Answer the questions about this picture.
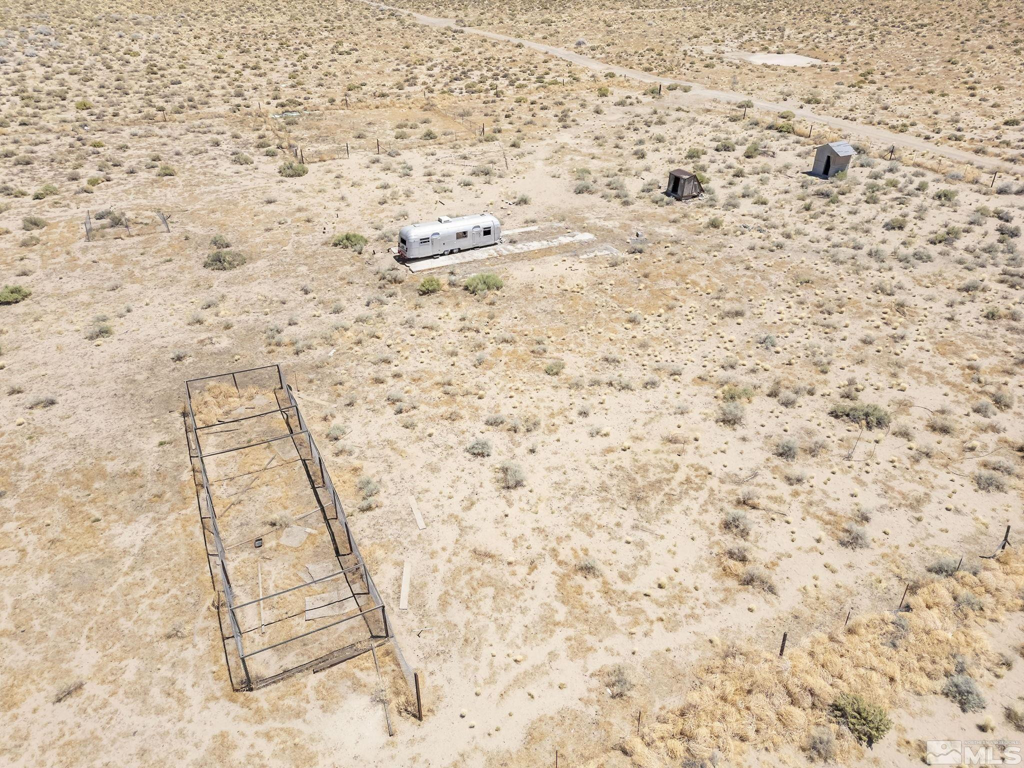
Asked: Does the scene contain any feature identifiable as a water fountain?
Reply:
No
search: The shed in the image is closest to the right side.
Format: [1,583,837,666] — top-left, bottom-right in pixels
[812,144,856,178]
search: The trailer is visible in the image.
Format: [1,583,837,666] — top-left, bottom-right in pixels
[395,212,508,259]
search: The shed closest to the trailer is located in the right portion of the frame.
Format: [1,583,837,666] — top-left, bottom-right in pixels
[667,170,703,198]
